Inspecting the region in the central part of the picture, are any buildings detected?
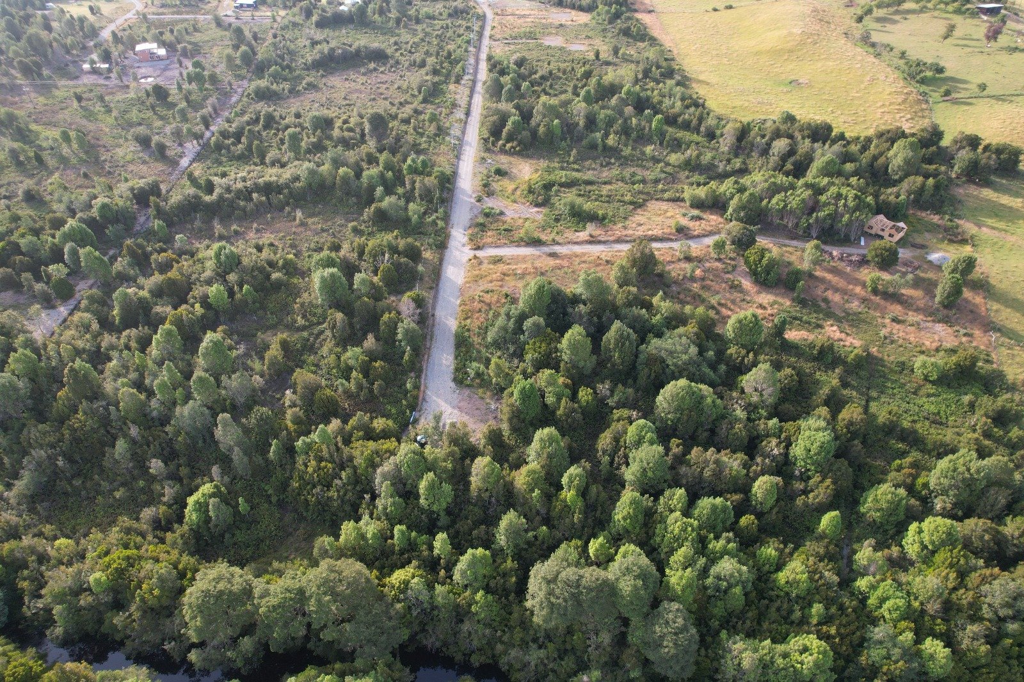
No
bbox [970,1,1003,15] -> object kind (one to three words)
shed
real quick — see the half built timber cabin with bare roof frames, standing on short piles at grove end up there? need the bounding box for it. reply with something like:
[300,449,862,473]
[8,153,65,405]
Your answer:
[863,210,908,240]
